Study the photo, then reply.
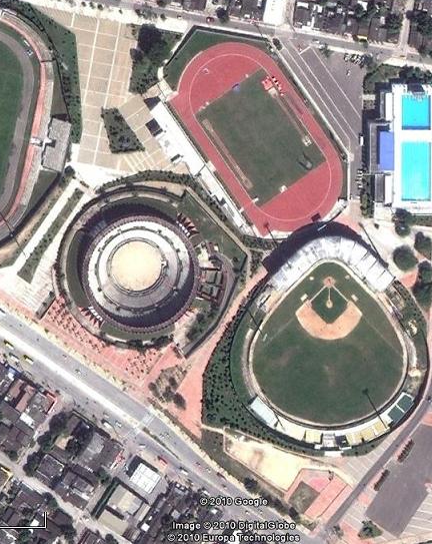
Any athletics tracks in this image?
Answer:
Yes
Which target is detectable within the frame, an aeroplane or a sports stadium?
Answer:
sports stadium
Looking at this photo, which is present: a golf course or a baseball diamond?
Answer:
baseball diamond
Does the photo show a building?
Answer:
Yes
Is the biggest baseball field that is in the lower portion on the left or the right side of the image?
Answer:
right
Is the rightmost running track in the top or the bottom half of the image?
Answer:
top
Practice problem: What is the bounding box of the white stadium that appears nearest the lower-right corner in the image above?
[240,225,418,449]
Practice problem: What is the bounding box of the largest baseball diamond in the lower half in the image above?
[252,263,404,425]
